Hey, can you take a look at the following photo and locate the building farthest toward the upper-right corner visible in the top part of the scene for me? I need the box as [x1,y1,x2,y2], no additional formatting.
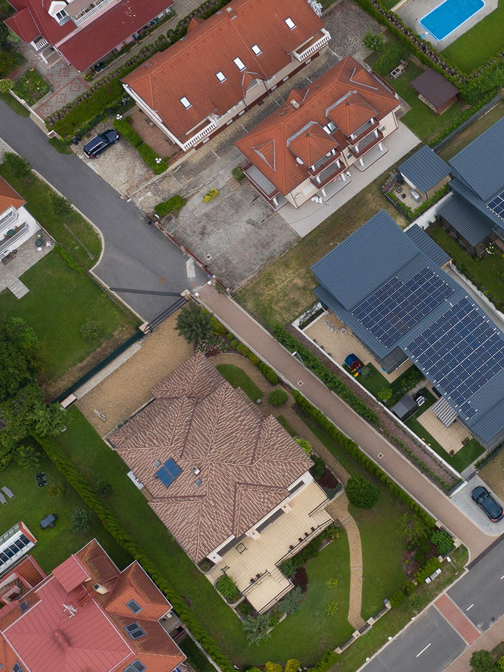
[411,69,459,118]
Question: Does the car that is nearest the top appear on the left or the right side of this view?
left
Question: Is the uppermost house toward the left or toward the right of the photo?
left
